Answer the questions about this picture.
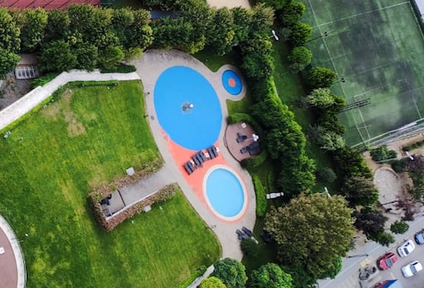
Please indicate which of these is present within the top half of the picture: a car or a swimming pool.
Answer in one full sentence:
There is a swimming pool within the top half of the picture.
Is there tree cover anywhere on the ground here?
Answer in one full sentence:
Yes, the picture does contain tree cover.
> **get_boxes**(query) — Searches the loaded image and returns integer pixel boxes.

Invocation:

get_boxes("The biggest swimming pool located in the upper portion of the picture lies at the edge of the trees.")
[153,66,223,150]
